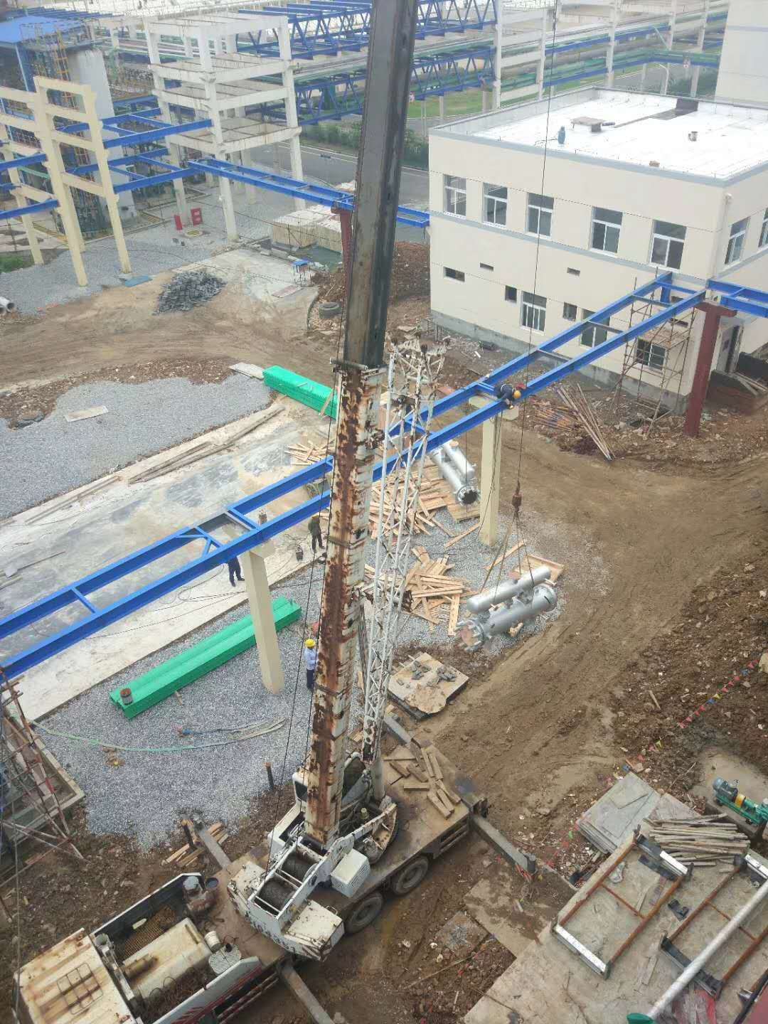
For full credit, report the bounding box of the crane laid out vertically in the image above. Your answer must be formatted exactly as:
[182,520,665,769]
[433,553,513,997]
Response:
[17,0,554,1024]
